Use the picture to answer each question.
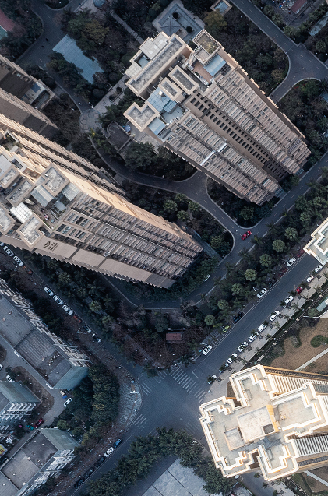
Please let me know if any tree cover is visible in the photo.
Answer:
Yes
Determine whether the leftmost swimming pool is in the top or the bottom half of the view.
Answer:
top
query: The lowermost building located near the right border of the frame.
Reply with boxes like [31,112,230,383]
[199,363,328,482]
